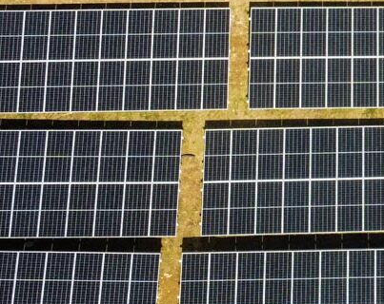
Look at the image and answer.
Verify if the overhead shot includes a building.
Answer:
No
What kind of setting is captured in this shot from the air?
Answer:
solar farm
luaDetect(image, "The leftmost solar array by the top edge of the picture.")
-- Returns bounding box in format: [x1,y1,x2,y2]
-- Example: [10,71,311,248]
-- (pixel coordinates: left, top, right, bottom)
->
[0,9,231,112]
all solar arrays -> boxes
[0,252,162,304]
[0,130,184,237]
[247,6,384,108]
[179,249,384,304]
[200,126,384,236]
[0,9,231,112]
